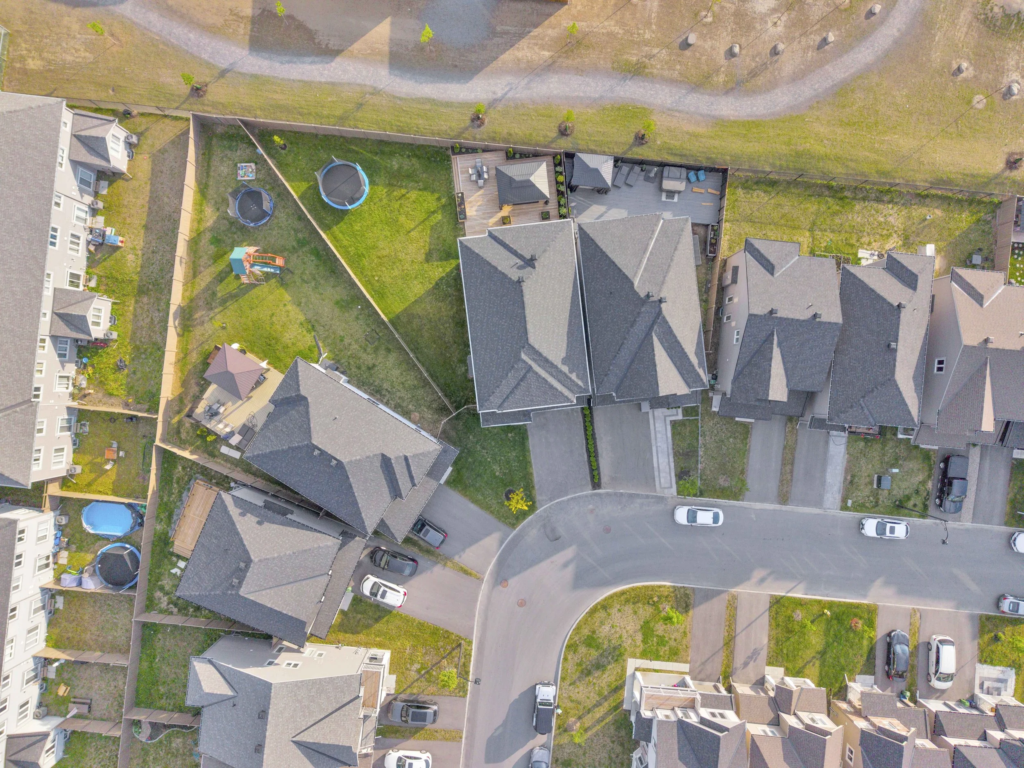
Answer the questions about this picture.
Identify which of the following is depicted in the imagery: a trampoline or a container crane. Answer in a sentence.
Visible in the photo is a trampoline.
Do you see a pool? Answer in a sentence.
Yes, the frame does contain a pool.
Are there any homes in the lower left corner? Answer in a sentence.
Yes, the scene does show a home in the lower left corner.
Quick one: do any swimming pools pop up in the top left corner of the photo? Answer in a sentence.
No, looking in the top left corner of the photo, there is no swimming pool.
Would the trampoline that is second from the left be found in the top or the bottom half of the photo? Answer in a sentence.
The trampoline that is second from the left is in the top half of the image.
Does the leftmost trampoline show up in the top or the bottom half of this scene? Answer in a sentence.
The leftmost trampoline is in the bottom half of the image.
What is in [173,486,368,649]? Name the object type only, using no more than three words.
house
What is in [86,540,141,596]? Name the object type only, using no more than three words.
trampoline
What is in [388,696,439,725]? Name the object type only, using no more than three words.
car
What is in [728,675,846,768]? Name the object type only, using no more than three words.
house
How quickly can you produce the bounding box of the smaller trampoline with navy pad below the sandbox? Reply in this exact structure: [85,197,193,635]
[229,183,277,227]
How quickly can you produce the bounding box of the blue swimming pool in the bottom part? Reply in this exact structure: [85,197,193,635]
[80,500,144,536]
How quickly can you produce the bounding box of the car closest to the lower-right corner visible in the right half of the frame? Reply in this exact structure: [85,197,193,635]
[927,635,957,688]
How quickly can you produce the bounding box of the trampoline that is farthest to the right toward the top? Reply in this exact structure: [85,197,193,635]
[314,155,371,212]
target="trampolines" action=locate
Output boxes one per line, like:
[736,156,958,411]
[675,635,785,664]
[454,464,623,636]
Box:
[229,183,277,227]
[86,540,141,596]
[314,155,371,212]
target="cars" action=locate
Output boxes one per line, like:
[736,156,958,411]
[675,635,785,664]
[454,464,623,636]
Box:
[409,514,450,552]
[384,749,432,768]
[528,745,550,768]
[388,696,439,725]
[1007,531,1024,552]
[368,549,421,581]
[885,629,913,682]
[673,505,724,528]
[532,682,557,737]
[858,516,912,540]
[995,592,1024,615]
[927,635,957,688]
[358,575,410,609]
